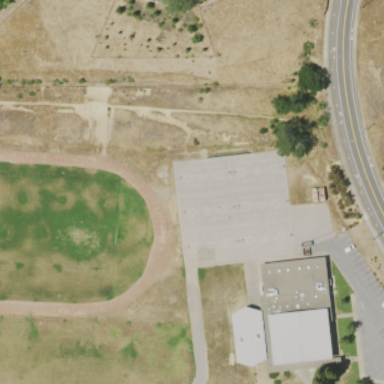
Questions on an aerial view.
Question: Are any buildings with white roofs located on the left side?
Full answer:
No, the scene shows no building with a white roof on the left side.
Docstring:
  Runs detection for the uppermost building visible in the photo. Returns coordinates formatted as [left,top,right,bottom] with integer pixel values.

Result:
[264,256,334,314]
